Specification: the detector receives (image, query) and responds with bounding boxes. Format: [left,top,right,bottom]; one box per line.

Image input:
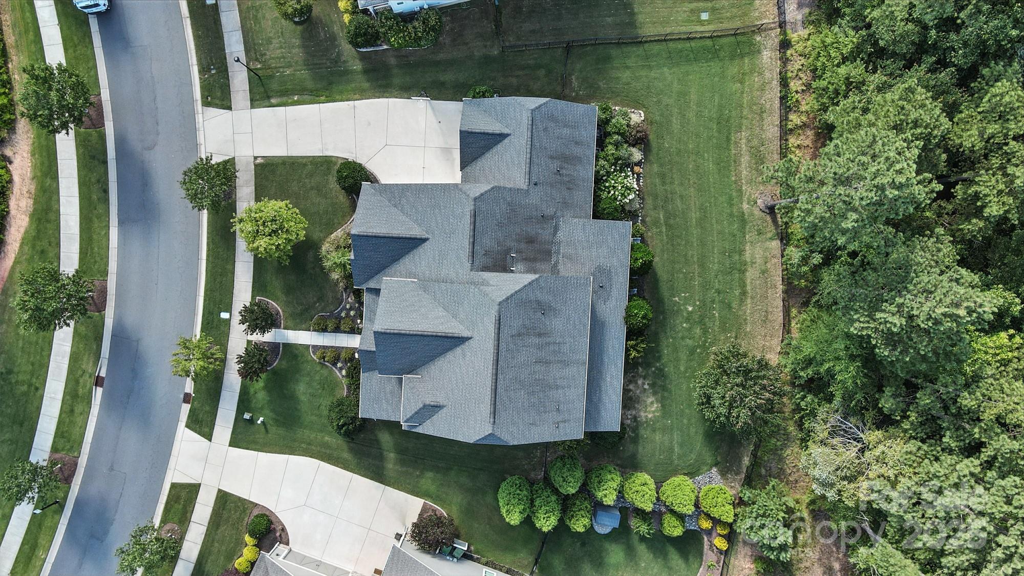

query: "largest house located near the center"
[350,97,632,445]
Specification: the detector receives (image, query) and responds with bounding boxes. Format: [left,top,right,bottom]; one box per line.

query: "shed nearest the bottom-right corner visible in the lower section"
[595,507,620,530]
